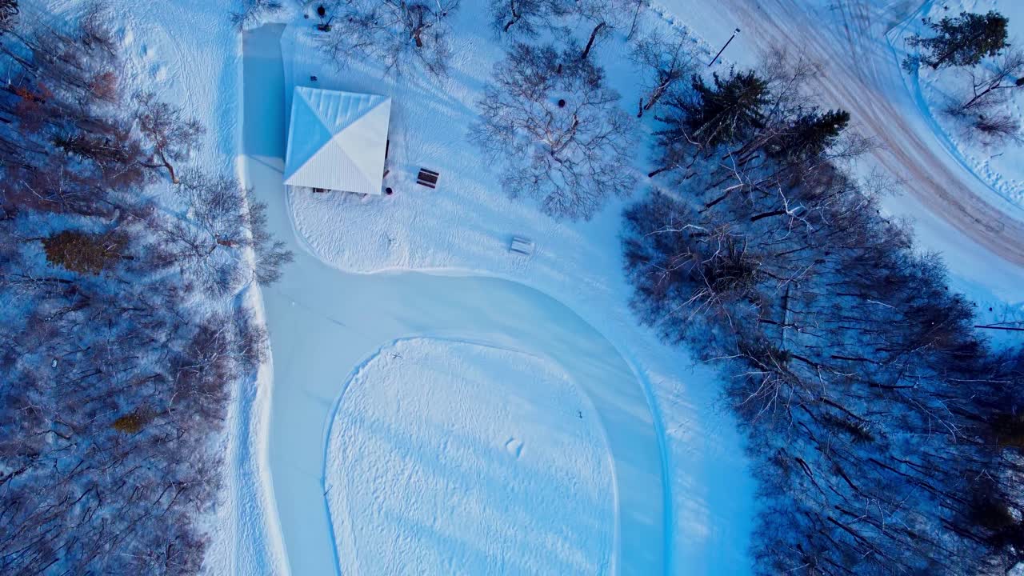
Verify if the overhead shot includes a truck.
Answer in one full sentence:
No, the scene contains no truck.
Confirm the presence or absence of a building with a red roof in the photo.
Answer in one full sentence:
No, I can't see a single building with a red roof in this photo.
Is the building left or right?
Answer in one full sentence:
The building appears in the left half of the scene.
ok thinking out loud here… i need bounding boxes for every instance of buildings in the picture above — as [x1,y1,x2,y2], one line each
[284,86,392,195]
